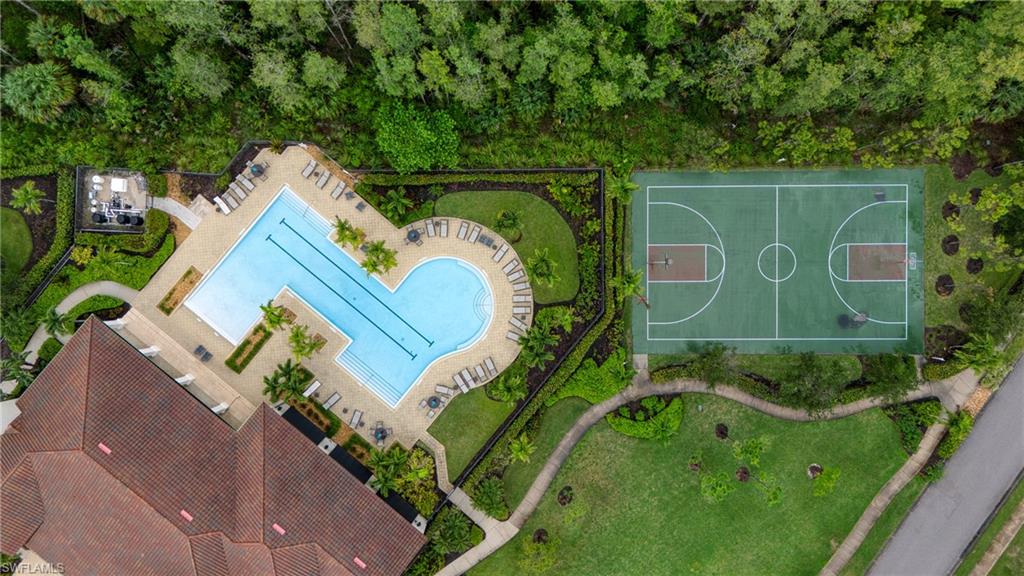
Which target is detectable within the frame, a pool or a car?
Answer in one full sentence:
Visible in the photo is a pool.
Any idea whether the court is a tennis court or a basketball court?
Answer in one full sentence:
The court can be classified as a basketball court.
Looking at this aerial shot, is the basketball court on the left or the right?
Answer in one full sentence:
The basketball court is on the right side of the image.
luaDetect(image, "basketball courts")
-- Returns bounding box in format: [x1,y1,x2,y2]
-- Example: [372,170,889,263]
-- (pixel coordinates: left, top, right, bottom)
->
[632,169,925,355]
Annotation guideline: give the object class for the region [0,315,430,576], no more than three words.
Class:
building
